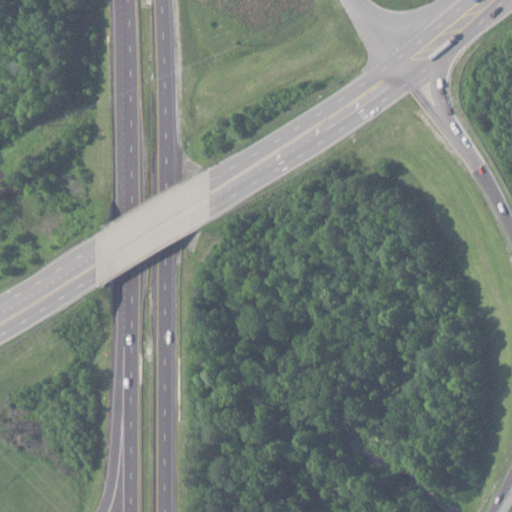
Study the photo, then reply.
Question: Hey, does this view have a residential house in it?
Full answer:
No, the frame has no residential house in it.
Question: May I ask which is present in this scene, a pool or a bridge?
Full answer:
The image shows a bridge.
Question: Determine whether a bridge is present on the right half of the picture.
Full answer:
No, the scene shows no bridge on the right half of the picture.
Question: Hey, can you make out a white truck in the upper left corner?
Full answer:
No, no white truck appears in the upper left corner.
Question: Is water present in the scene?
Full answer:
No, there is no water in the image.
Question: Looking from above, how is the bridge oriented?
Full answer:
In this picture, the bridge is oriented at an angle.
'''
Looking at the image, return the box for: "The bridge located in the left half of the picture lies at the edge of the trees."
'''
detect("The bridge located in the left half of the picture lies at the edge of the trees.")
[94,151,209,322]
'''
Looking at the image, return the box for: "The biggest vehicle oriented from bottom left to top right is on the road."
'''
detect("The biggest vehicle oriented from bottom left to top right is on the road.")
[428,32,465,58]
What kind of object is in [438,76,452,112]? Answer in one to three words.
vehicle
